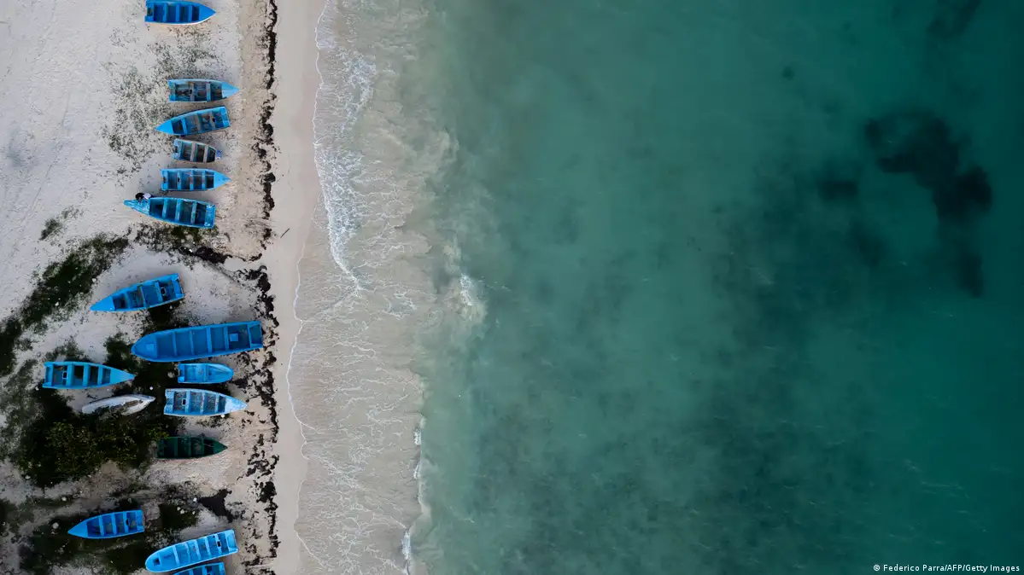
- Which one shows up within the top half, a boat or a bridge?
boat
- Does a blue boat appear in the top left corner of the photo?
Yes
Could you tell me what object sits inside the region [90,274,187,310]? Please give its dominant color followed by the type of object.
blue boat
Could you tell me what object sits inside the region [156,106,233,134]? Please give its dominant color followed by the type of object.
blue boat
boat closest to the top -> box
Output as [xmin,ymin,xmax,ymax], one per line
[145,0,216,25]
